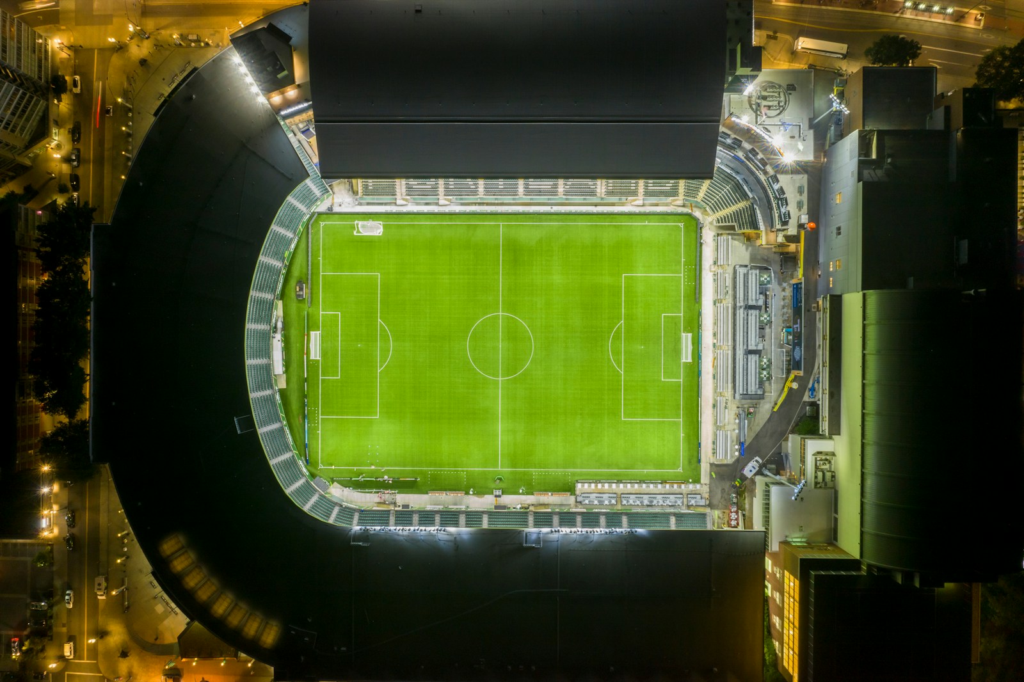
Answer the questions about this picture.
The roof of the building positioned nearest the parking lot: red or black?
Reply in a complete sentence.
The roof of the building positioned nearest the parking lot looks black in the image.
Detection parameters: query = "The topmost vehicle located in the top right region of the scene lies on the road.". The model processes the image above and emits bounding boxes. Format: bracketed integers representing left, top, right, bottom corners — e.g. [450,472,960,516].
[796,38,850,57]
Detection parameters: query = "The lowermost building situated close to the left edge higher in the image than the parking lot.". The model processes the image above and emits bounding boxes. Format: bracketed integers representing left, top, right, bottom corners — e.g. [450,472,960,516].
[0,468,53,545]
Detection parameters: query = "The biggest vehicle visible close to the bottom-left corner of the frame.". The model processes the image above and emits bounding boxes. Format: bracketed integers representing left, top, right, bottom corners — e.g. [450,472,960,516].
[92,575,107,600]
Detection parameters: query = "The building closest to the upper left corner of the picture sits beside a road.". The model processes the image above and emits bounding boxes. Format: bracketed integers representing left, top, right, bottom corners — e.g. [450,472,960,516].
[0,4,49,89]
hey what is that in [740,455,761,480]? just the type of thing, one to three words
vehicle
